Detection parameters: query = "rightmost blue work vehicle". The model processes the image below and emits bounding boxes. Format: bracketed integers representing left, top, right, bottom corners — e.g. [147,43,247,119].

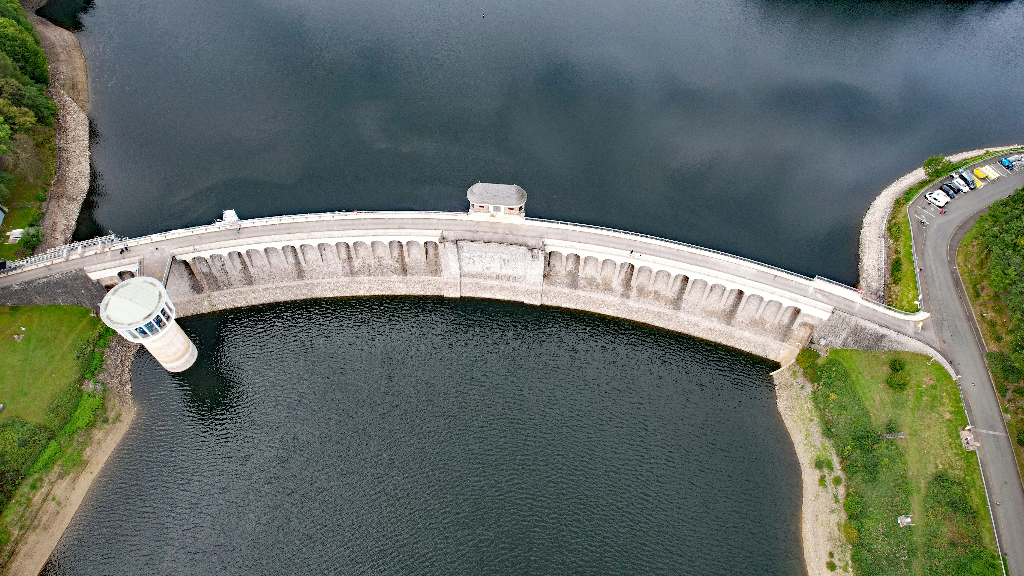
[1000,159,1020,176]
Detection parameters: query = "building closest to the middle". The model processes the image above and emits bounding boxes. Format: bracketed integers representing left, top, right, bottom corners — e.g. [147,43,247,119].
[467,178,529,218]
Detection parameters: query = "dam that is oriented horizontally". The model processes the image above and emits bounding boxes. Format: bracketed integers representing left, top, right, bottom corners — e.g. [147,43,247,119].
[0,207,882,360]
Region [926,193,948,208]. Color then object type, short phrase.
white vehicle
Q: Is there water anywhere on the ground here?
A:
Yes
